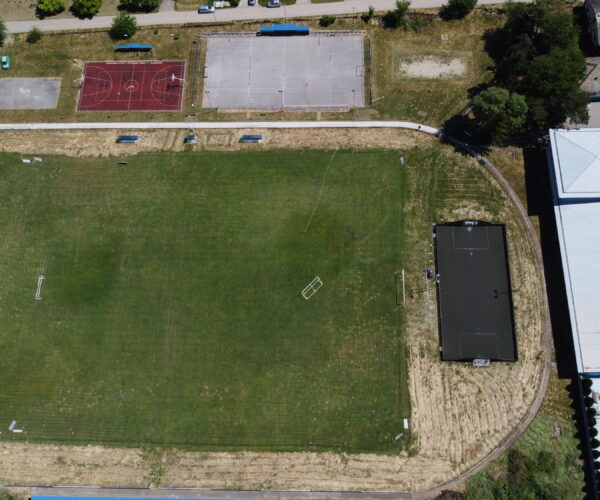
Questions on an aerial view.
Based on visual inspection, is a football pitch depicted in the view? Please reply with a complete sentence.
Yes, you can see a football pitch in this photo.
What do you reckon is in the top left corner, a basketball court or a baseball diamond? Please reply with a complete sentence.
What appears in the top left corner is a basketball court.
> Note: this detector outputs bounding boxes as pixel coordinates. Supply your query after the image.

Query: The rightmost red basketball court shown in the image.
[76,59,186,113]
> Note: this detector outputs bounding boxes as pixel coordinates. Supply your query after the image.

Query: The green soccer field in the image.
[0,151,412,455]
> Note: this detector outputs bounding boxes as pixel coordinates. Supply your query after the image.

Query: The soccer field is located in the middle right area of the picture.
[435,224,517,360]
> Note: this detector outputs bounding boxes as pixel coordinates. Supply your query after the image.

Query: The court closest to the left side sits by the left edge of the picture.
[0,77,62,109]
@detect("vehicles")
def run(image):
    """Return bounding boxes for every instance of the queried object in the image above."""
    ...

[0,56,9,70]
[472,360,491,369]
[213,0,224,9]
[266,1,281,9]
[197,6,214,15]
